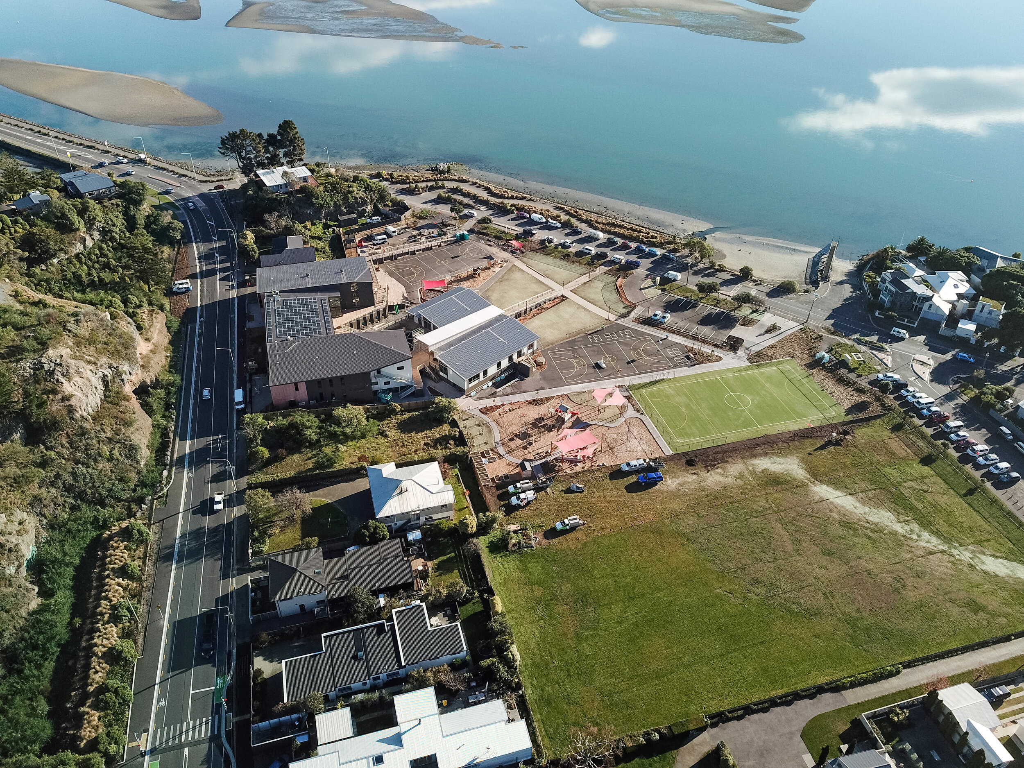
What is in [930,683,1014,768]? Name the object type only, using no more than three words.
house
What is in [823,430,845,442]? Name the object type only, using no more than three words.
vehicle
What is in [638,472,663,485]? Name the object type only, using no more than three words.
vehicle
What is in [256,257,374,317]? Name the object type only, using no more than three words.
building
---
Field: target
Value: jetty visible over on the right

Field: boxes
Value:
[820,233,841,285]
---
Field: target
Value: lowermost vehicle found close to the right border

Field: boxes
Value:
[982,684,1014,703]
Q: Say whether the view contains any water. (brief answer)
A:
Yes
